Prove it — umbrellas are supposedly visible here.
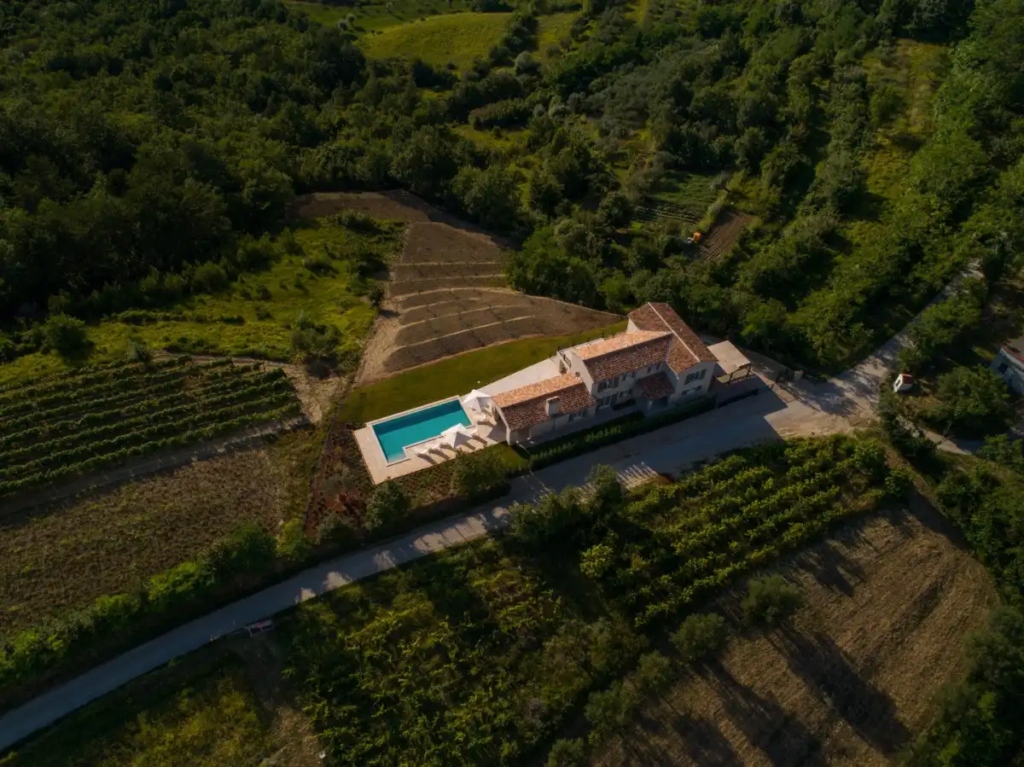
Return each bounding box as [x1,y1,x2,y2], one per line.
[460,382,492,409]
[441,417,476,445]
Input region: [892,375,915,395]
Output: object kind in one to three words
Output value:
building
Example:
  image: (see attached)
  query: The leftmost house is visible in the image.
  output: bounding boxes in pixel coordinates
[491,300,718,442]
